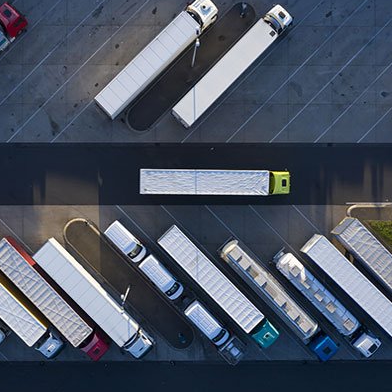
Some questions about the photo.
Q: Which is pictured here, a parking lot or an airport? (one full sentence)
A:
The picture captures a parking lot.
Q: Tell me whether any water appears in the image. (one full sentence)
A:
No, there's no water in this view.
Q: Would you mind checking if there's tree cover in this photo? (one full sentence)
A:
No, there is no tree cover in the image.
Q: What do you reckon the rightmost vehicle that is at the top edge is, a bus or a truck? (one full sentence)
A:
I'd say the rightmost vehicle that is at the top edge is a truck.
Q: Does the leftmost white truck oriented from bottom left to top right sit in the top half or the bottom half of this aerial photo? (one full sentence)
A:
The top half of the photo is where the leftmost white truck oriented from bottom left to top right is.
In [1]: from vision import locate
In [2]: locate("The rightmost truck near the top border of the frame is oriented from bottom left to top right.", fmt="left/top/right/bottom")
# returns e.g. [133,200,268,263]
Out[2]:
[171,3,294,129]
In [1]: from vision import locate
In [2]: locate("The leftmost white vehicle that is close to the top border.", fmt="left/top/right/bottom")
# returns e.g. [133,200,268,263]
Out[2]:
[95,0,218,119]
